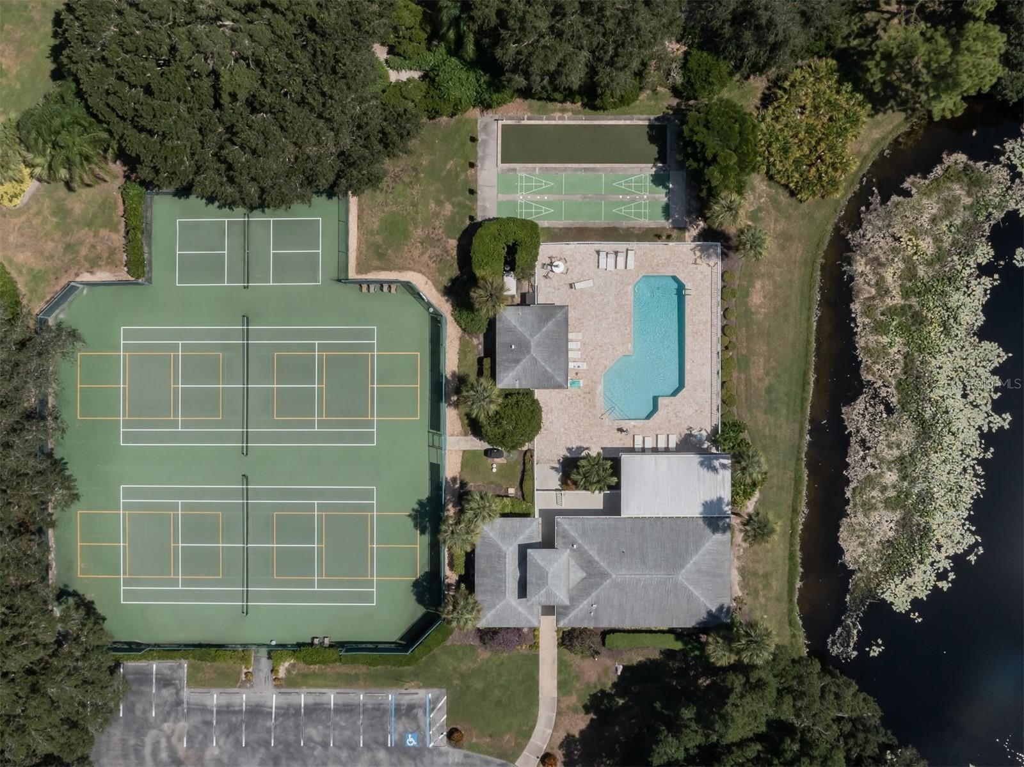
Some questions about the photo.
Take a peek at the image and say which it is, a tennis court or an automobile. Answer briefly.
tennis court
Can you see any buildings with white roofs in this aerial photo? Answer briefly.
Yes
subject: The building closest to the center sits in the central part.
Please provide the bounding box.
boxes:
[496,304,569,390]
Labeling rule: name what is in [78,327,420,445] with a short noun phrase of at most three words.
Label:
tennis court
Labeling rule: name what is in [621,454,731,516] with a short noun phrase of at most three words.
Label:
building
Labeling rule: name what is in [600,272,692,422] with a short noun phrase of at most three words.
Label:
swimming pool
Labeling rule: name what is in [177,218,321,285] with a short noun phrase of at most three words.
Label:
sports court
